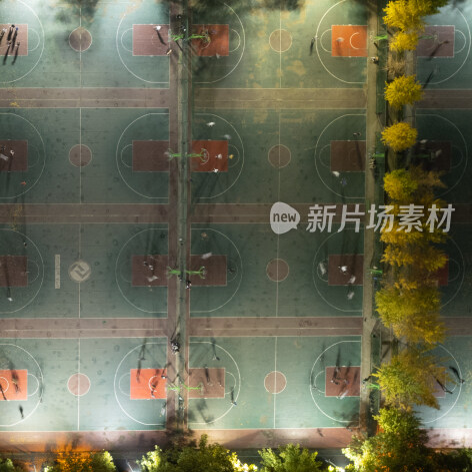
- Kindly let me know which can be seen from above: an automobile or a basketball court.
basketball court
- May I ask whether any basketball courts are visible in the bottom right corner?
Yes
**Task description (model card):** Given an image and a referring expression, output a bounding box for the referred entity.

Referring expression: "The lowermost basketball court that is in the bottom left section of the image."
[0,336,167,430]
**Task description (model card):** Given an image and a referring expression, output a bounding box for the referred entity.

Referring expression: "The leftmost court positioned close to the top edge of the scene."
[0,0,171,90]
